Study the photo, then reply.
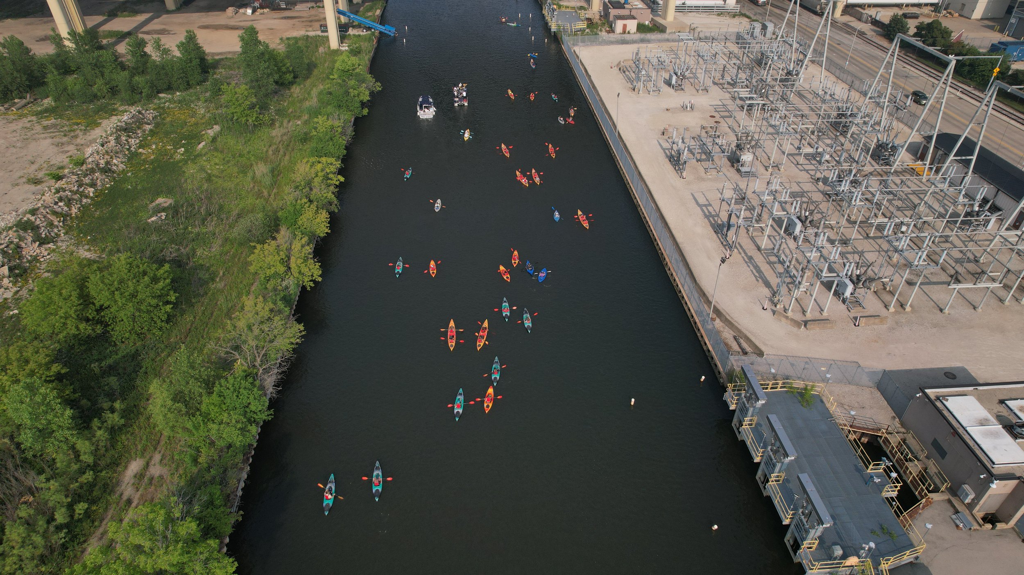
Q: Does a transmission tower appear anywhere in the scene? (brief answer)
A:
Yes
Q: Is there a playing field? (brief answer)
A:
No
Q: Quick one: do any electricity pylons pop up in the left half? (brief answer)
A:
No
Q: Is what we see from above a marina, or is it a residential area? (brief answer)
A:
marina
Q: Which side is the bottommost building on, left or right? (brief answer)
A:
right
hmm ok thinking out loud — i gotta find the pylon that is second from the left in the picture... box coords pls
[842,28,959,182]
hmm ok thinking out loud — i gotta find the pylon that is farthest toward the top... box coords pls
[762,0,835,97]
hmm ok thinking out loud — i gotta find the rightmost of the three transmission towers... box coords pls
[917,82,1024,266]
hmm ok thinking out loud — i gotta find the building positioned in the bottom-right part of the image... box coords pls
[901,381,1024,540]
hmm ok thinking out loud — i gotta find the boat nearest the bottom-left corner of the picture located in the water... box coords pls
[324,474,336,516]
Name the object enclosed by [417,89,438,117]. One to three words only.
boat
